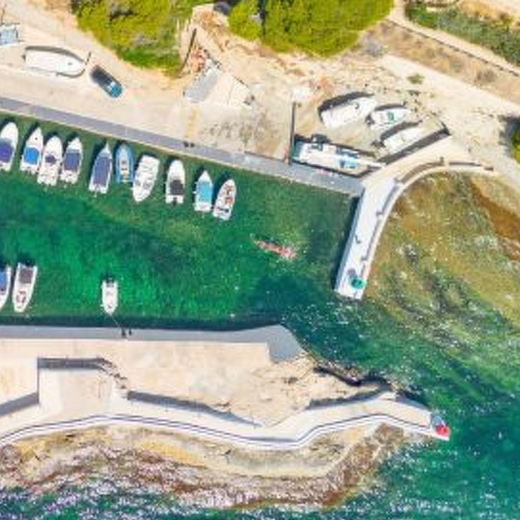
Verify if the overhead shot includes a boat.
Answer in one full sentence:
Yes, this view includes a boat.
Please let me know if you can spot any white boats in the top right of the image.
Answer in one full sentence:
Yes, I can see a white boat in the top right of the image.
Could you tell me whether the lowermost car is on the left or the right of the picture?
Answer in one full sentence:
The lowermost car is on the left side of the image.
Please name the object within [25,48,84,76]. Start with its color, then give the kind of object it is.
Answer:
white boat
